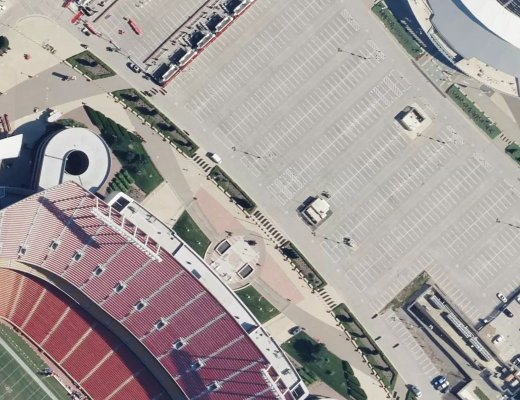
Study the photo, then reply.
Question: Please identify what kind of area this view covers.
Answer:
sports ground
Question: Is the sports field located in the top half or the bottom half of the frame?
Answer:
bottom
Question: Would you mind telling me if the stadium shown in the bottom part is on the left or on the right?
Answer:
left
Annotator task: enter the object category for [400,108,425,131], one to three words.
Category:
building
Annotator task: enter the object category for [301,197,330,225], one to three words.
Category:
building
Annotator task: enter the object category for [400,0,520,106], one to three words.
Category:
stadium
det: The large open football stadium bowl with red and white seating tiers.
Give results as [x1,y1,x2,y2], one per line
[0,180,312,400]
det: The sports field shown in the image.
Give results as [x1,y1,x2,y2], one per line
[0,320,90,400]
